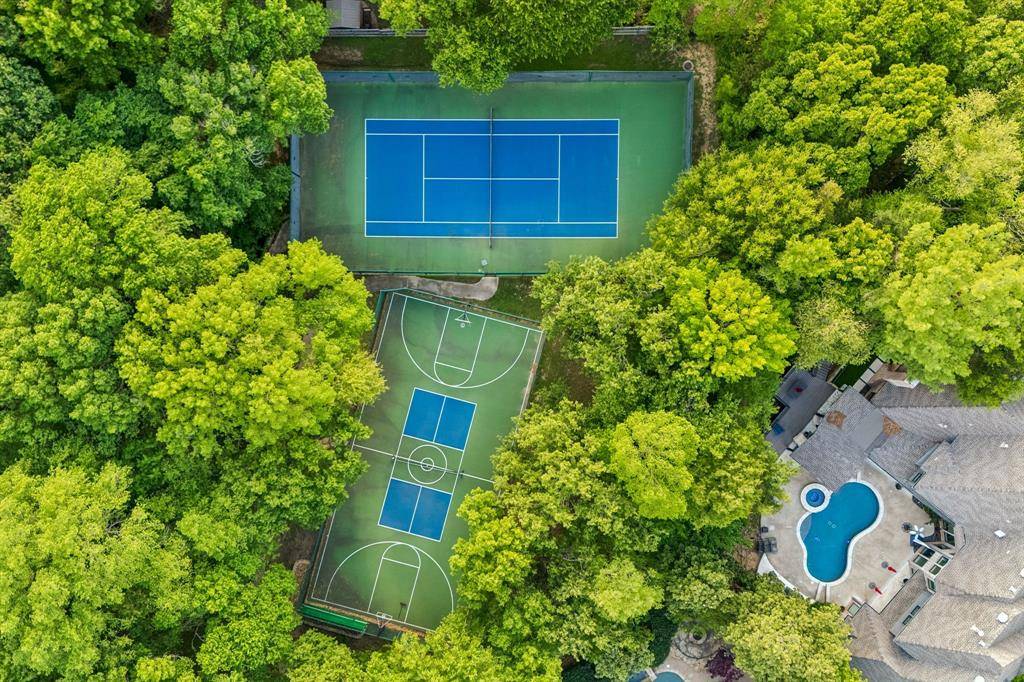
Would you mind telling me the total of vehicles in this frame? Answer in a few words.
0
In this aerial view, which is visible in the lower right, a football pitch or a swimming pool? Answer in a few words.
swimming pool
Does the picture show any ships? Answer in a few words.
No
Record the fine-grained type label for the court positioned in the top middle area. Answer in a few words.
tennis court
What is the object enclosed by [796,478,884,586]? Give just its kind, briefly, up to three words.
swimming pool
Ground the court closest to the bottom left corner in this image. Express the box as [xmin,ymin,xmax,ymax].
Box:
[305,287,549,636]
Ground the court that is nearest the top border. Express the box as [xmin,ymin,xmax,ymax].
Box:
[300,83,686,274]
